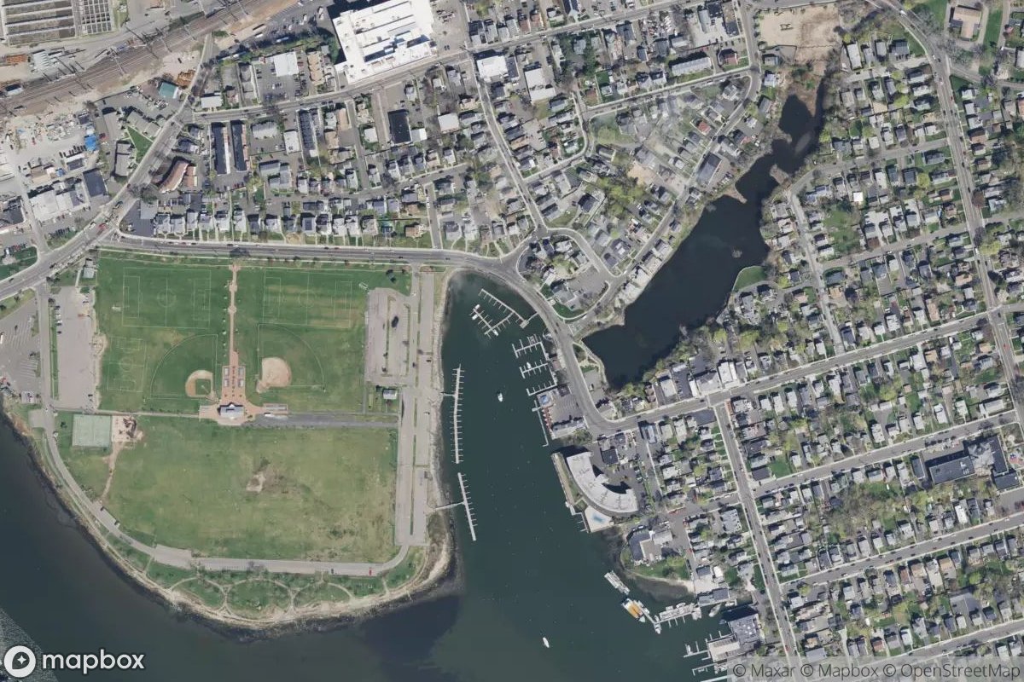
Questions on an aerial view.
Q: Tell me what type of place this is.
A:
residential area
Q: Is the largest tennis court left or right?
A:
left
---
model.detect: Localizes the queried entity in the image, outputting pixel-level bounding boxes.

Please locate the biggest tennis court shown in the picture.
[72,414,111,447]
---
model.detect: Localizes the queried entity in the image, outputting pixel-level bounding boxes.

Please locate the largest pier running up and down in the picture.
[450,365,463,463]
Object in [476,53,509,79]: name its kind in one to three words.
building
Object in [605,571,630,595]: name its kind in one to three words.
ship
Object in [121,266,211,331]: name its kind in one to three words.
soccer field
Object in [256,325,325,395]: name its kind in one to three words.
baseball field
